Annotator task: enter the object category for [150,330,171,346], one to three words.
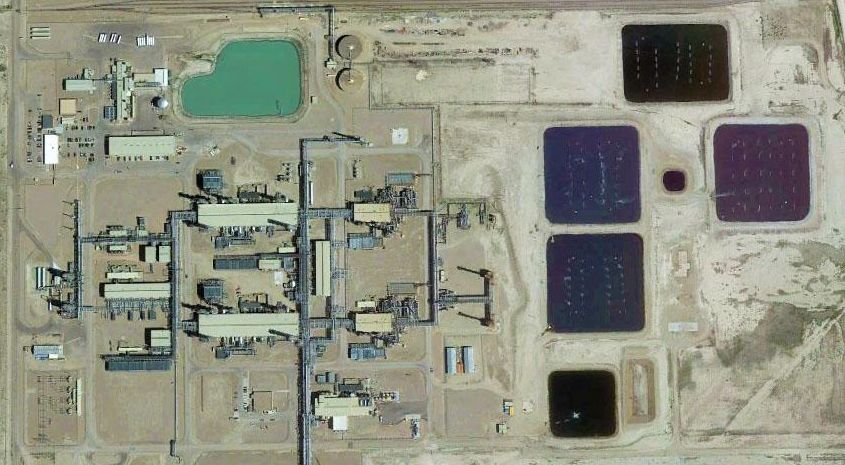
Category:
building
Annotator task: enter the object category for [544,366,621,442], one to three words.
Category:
pond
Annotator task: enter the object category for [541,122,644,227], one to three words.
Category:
pond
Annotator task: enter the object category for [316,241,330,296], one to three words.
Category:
building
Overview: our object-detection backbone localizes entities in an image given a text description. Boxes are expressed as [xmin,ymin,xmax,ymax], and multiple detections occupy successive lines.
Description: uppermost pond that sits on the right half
[618,20,734,107]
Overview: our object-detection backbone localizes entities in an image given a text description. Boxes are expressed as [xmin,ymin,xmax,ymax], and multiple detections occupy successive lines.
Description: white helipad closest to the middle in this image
[392,129,408,144]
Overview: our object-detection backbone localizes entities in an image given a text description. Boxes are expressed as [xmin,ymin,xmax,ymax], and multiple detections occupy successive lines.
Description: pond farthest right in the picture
[710,120,815,227]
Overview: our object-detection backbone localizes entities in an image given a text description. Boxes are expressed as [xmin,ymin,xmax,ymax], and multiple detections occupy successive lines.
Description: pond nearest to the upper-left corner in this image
[177,36,304,121]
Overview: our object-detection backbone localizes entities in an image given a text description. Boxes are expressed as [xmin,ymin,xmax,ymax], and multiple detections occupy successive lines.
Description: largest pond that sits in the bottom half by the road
[543,230,649,336]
